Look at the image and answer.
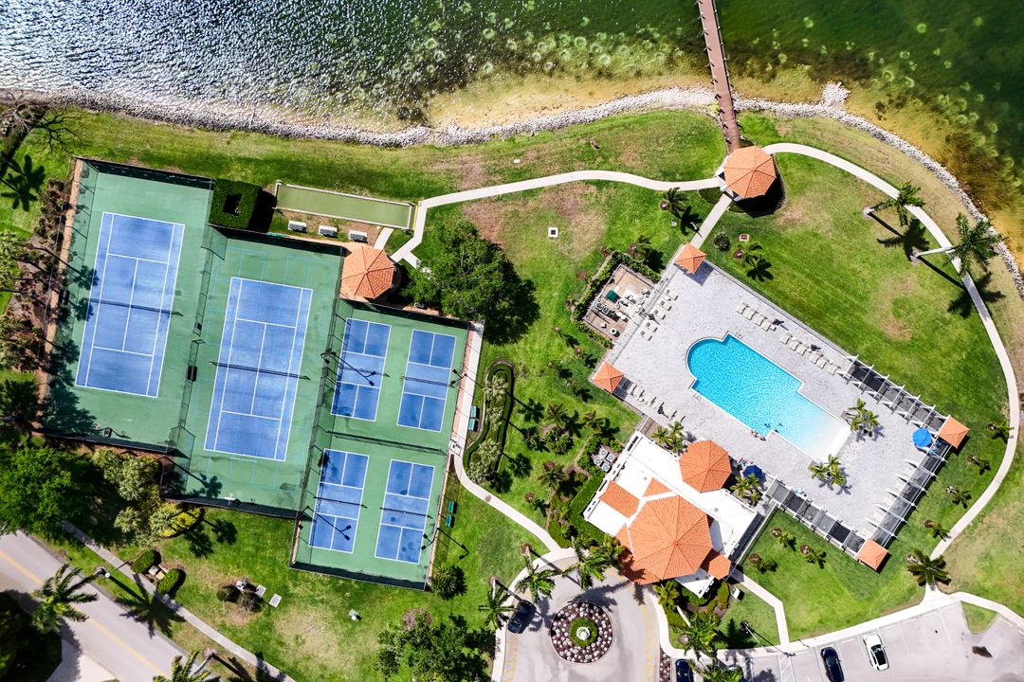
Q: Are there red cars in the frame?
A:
No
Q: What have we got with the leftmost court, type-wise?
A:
tennis court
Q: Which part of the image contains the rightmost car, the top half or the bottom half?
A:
bottom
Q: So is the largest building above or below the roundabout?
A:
above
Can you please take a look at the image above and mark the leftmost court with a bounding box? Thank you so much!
[44,163,216,450]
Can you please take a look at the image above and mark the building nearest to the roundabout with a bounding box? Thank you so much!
[582,426,759,611]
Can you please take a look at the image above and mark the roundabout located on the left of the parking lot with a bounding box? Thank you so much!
[551,601,613,663]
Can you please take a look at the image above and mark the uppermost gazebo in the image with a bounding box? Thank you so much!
[716,145,777,204]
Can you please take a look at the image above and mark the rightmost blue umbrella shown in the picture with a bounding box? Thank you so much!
[909,427,929,447]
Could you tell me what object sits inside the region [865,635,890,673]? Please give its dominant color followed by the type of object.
white car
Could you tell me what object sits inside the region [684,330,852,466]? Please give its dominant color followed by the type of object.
blue swimming pool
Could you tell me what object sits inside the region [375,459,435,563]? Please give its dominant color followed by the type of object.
blue sports court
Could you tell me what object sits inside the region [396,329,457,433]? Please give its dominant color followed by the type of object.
blue sports court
